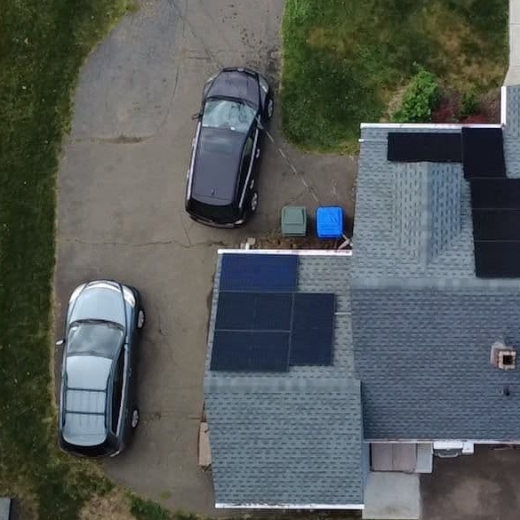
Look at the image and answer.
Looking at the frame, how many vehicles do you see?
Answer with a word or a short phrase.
two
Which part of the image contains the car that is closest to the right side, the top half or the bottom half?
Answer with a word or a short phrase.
top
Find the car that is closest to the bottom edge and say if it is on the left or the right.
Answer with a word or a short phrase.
left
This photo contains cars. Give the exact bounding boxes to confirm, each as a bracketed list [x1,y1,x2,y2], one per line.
[181,64,272,230]
[53,280,146,461]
